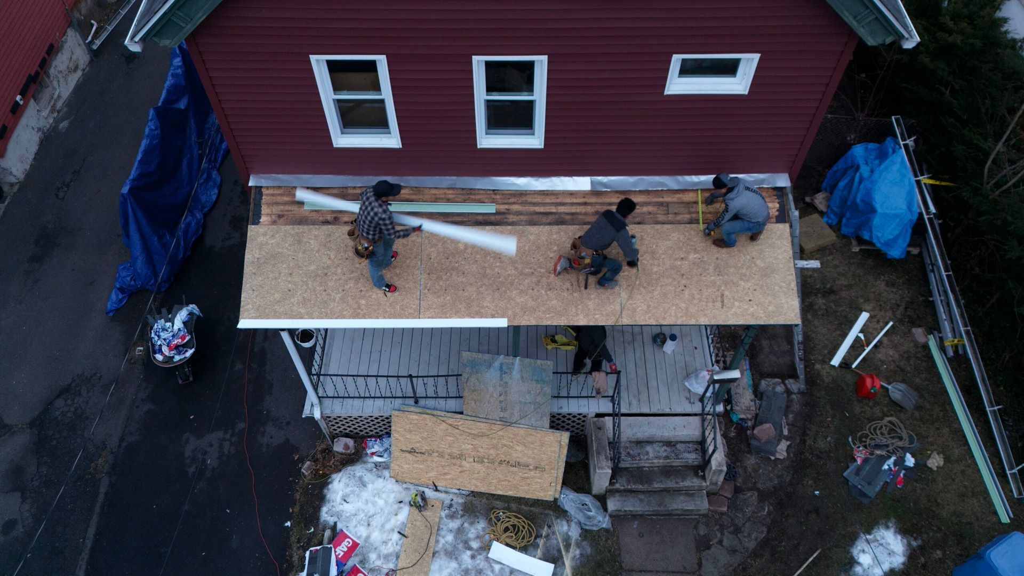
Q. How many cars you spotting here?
0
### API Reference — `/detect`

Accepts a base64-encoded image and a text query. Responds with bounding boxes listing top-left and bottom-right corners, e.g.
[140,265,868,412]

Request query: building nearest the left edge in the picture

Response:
[0,0,93,216]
